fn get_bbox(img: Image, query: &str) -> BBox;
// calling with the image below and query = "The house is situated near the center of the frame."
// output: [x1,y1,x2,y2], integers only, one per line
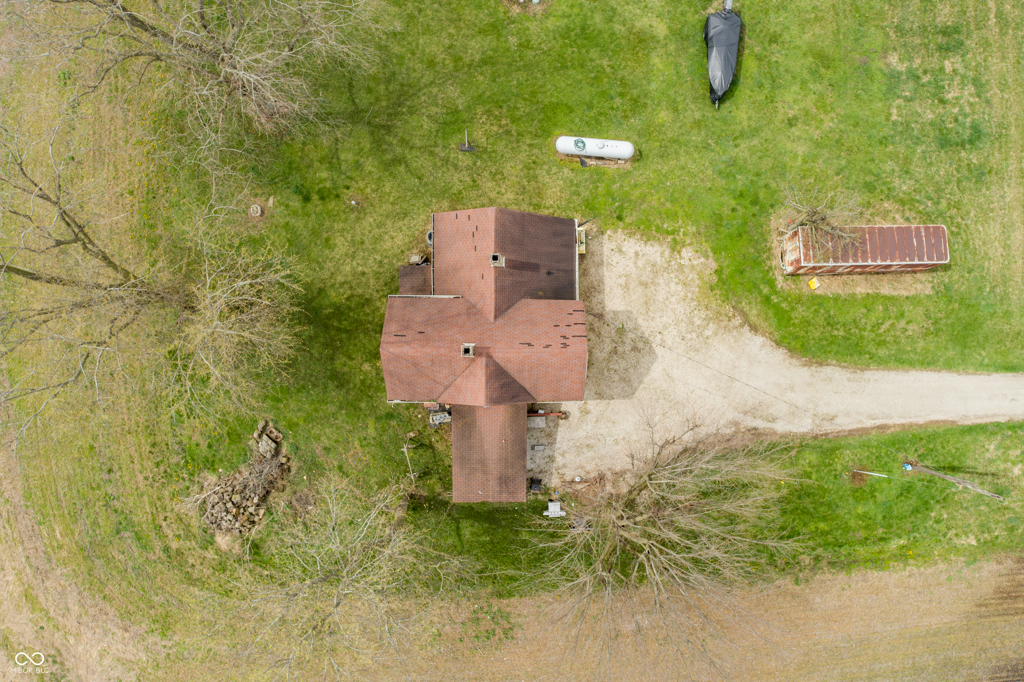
[380,207,588,503]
